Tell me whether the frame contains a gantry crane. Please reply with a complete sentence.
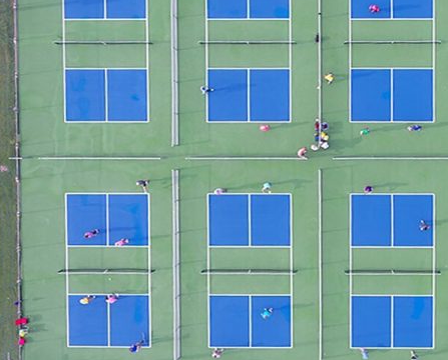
No, I find no gantry crane anywhere in the image.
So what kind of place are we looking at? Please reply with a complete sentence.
The picture captures a sports ground.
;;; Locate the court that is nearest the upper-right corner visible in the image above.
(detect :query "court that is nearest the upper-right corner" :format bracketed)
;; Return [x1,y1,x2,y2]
[350,0,434,123]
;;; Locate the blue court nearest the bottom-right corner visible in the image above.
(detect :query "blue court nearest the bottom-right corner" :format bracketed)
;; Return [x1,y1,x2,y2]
[350,194,434,349]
